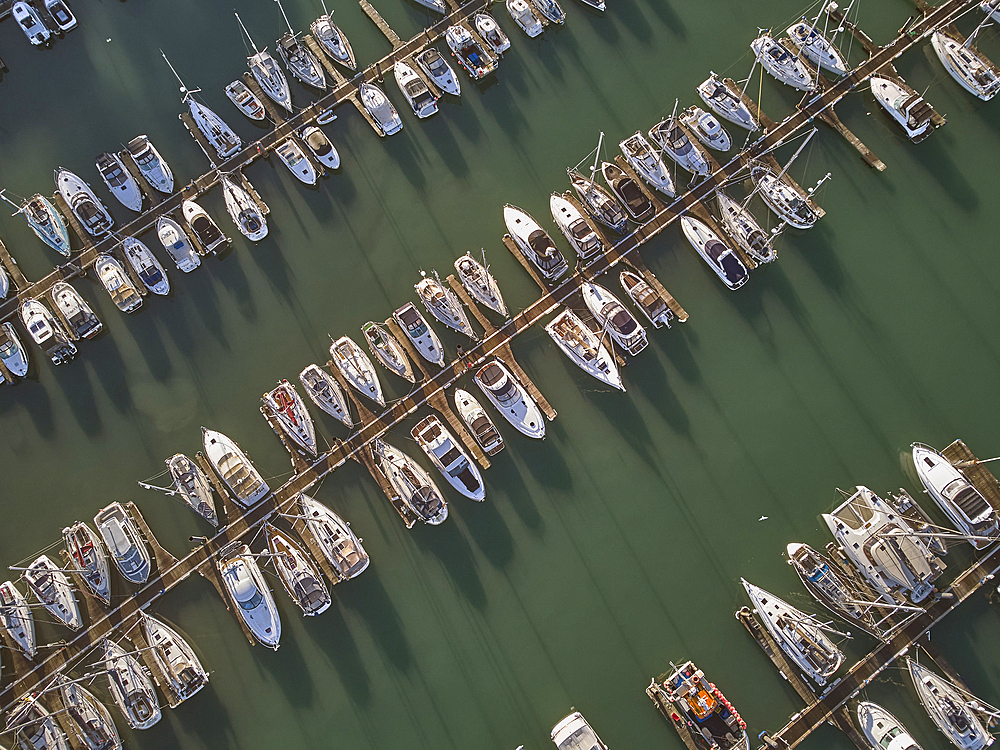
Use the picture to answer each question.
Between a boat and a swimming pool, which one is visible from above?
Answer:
boat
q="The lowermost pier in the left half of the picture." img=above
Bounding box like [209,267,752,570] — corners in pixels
[40,688,84,750]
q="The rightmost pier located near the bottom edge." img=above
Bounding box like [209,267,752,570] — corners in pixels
[909,643,1000,732]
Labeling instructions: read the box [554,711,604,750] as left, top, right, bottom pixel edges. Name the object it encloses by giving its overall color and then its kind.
white boat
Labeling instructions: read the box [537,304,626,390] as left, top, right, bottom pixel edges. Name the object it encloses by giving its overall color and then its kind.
white boat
